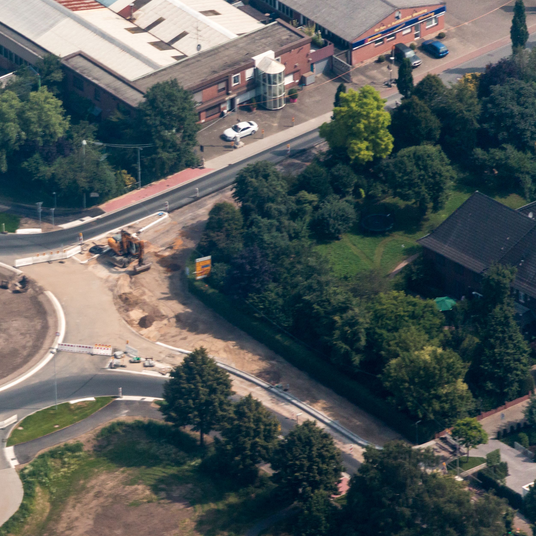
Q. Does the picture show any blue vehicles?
Yes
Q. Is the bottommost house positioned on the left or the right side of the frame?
right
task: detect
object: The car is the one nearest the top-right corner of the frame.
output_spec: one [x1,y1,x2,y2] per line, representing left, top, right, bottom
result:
[419,38,452,58]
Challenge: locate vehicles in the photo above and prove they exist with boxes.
[419,38,452,58]
[221,119,260,140]
[102,233,153,273]
[392,35,428,62]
